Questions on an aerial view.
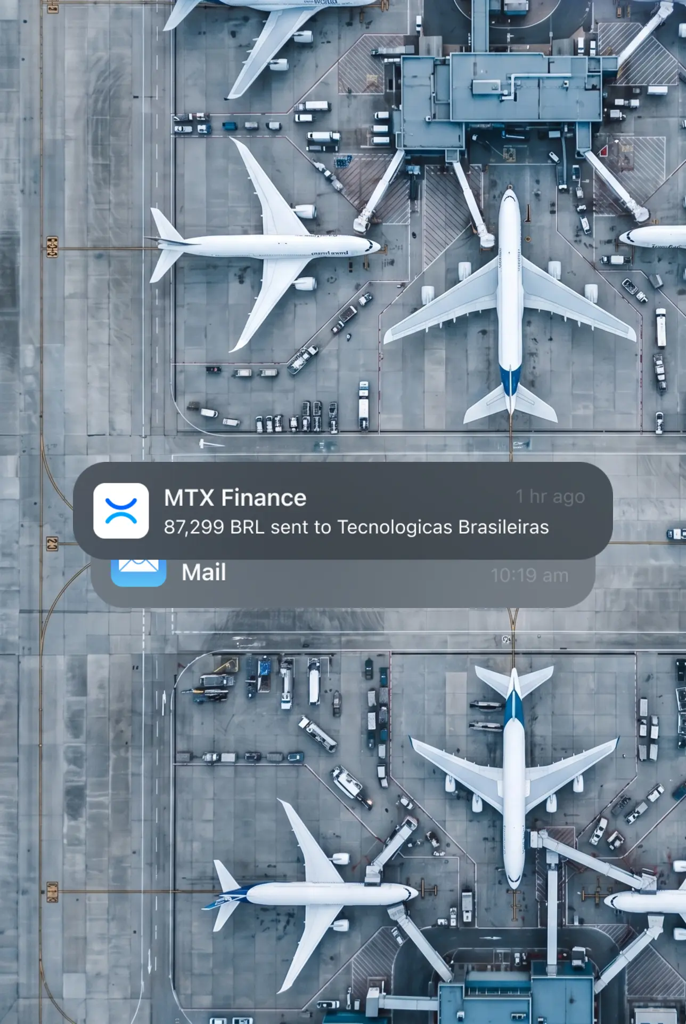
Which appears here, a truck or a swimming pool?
truck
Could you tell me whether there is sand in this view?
No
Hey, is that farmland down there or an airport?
airport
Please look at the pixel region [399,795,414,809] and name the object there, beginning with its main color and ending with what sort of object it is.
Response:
white car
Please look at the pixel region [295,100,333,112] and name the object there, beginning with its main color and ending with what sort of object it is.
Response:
white vehicle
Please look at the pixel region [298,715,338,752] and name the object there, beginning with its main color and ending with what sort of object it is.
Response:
white truck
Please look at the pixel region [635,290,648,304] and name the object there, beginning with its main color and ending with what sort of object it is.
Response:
white vehicle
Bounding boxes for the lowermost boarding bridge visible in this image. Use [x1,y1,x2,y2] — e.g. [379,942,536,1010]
[366,982,439,1017]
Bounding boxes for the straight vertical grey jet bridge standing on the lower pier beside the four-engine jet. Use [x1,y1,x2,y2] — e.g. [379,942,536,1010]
[542,850,562,969]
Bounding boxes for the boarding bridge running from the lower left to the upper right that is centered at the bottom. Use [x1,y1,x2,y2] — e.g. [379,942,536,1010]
[366,814,418,885]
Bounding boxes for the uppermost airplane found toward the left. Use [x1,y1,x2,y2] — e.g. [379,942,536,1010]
[162,0,384,101]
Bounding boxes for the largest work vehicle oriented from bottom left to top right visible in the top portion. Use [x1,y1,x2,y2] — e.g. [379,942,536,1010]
[286,344,320,375]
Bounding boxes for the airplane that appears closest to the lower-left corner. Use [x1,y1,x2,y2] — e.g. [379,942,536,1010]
[203,797,418,992]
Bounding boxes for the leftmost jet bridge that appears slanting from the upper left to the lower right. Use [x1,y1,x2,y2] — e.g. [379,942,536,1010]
[388,902,451,979]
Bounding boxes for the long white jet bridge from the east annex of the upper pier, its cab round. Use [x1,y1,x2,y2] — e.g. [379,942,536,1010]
[581,149,650,224]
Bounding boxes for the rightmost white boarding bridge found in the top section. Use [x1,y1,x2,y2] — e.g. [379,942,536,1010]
[619,2,674,67]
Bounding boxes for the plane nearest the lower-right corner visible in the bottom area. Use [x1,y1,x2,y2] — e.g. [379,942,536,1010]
[604,862,686,941]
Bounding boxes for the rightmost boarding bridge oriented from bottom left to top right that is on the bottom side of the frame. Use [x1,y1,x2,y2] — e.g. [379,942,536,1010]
[595,913,664,990]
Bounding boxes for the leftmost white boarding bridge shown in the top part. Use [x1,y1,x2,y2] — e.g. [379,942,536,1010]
[355,148,405,232]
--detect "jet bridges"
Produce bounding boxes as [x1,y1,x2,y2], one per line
[366,982,439,1017]
[355,148,405,232]
[366,814,418,885]
[525,827,657,892]
[542,850,562,969]
[595,913,664,990]
[619,2,674,67]
[581,149,650,224]
[388,902,451,979]
[452,162,495,249]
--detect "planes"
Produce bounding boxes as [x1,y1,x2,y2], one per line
[162,0,384,101]
[203,797,418,992]
[619,226,686,248]
[147,139,380,353]
[407,667,624,889]
[384,191,637,422]
[604,862,686,941]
